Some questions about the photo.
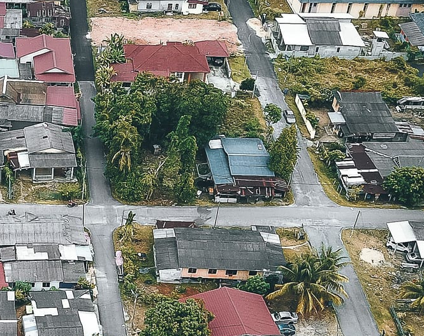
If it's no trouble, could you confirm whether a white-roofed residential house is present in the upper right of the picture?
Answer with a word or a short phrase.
Yes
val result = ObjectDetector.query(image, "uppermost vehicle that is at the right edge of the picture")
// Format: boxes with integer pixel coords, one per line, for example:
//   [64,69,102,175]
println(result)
[394,95,424,112]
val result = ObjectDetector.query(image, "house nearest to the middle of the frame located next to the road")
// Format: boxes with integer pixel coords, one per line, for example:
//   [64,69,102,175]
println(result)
[204,138,288,206]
